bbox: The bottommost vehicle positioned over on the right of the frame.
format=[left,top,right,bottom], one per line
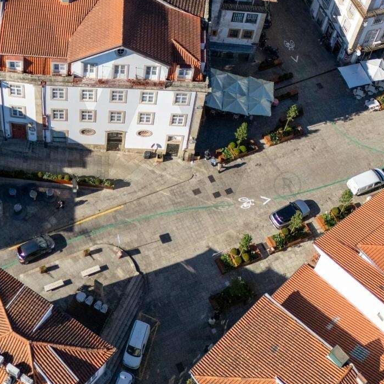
[272,200,313,229]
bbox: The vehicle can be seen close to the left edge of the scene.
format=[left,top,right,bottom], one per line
[12,233,57,265]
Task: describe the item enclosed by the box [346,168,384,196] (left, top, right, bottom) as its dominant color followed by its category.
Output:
white vehicle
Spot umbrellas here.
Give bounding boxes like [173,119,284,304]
[359,60,384,87]
[269,97,282,116]
[203,87,228,115]
[249,79,273,101]
[207,70,231,91]
[224,91,249,120]
[337,65,372,92]
[228,75,252,95]
[246,97,271,125]
[151,142,165,161]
